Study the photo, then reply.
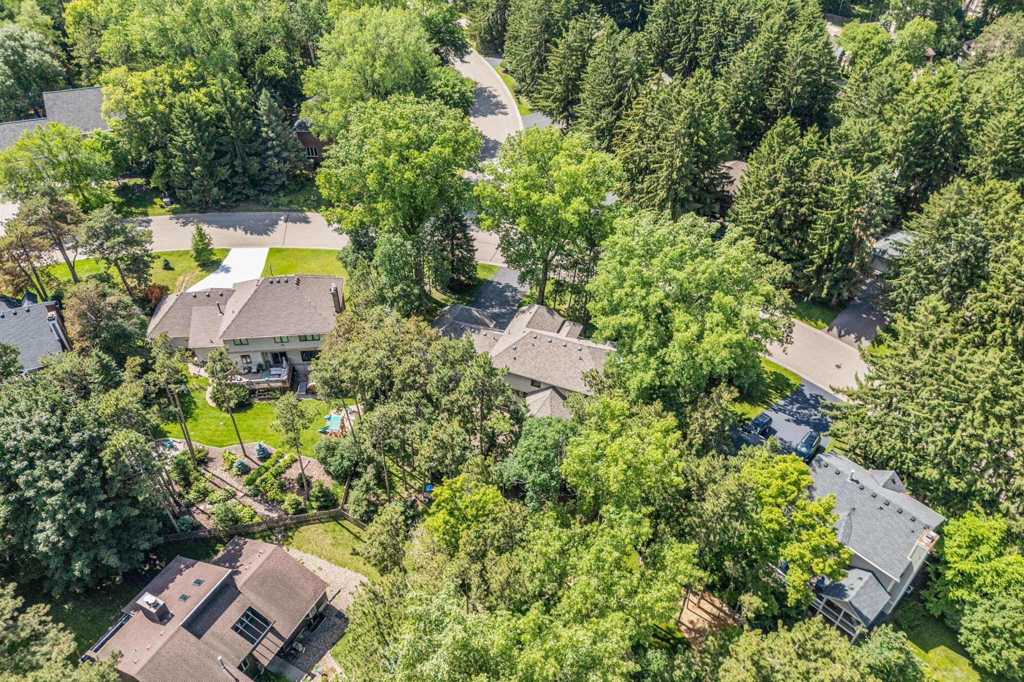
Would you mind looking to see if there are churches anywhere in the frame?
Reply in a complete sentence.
No, this view has no church in it.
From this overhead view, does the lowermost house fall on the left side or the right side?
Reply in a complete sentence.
The lowermost house sits on the left side.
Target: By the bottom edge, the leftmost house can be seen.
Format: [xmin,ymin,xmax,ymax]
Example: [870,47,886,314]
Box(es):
[71,536,329,682]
